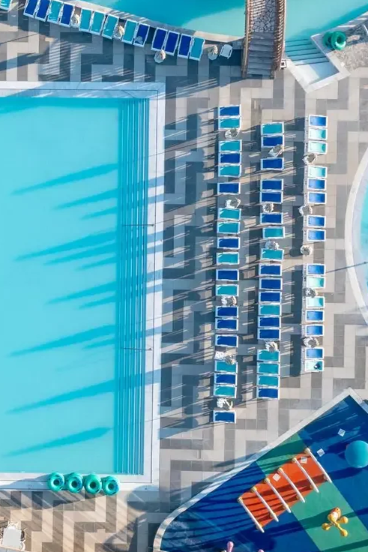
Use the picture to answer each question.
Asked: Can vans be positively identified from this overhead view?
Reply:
No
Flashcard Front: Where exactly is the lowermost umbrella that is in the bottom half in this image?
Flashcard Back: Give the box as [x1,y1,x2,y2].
[218,398,234,414]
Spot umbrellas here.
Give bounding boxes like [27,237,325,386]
[261,199,279,214]
[225,195,243,209]
[299,202,319,216]
[301,149,321,164]
[265,238,282,252]
[304,286,322,300]
[304,336,321,349]
[225,125,241,139]
[223,352,238,367]
[69,8,83,27]
[154,46,170,63]
[218,398,234,414]
[222,295,238,308]
[268,142,287,157]
[264,340,281,354]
